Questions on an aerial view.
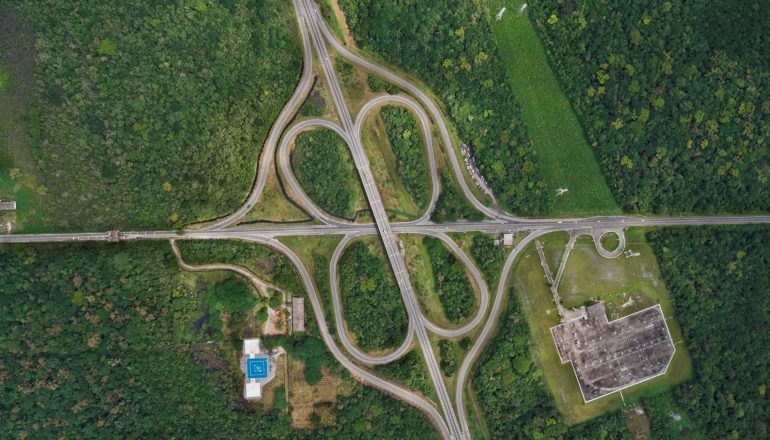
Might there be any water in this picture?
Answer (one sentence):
No, the picture contains no water.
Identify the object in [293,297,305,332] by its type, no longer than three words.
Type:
building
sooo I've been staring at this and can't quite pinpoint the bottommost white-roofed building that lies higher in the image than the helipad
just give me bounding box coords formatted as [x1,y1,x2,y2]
[244,338,262,358]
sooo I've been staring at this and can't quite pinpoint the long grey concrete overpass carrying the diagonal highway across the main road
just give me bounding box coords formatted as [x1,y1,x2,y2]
[353,156,414,296]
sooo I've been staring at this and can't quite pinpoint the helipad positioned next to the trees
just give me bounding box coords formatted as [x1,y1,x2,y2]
[245,358,267,379]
